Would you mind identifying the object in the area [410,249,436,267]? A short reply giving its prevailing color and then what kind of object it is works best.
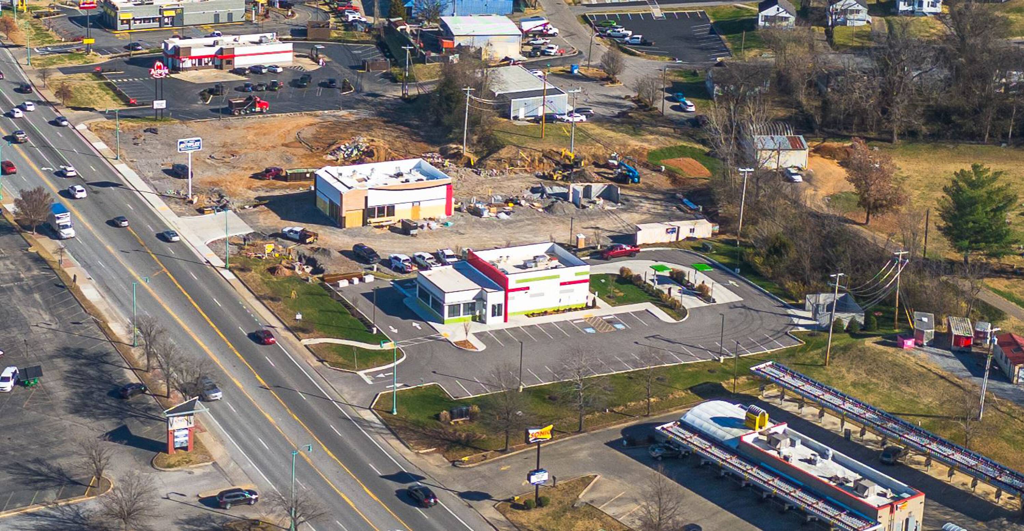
white vehicle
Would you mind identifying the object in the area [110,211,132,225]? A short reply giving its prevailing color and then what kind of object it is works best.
gray car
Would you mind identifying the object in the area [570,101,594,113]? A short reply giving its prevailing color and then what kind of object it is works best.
gray vehicle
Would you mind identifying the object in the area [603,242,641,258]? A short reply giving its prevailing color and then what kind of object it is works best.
red vehicle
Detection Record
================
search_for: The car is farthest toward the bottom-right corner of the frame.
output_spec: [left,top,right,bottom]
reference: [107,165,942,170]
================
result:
[878,440,908,465]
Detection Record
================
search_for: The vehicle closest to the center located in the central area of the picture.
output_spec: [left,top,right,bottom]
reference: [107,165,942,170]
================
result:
[434,245,459,263]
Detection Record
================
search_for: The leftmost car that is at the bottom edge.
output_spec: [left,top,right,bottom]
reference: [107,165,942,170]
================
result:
[217,485,261,507]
